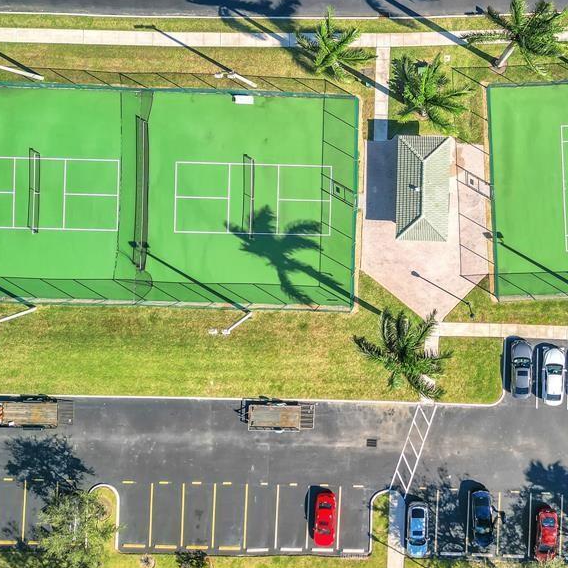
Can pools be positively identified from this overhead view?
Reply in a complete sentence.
No, there isn't any pool down there.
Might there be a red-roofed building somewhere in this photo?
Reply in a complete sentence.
No, this view has no red-roofed building in it.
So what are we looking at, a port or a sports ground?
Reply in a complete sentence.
This image shows a sports ground.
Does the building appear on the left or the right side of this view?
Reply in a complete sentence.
The building sits on the right side.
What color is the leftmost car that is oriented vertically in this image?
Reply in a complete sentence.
The leftmost car that is oriented vertically looks red in the image.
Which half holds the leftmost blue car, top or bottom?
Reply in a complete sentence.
The leftmost blue car sits in the bottom half of the picture.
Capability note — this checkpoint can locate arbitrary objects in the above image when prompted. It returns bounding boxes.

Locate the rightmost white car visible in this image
[541,347,567,404]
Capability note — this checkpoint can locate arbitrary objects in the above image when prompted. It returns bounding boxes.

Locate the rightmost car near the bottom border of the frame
[534,505,559,560]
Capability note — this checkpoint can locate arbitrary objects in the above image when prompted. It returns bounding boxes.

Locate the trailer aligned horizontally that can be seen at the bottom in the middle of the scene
[233,402,315,434]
